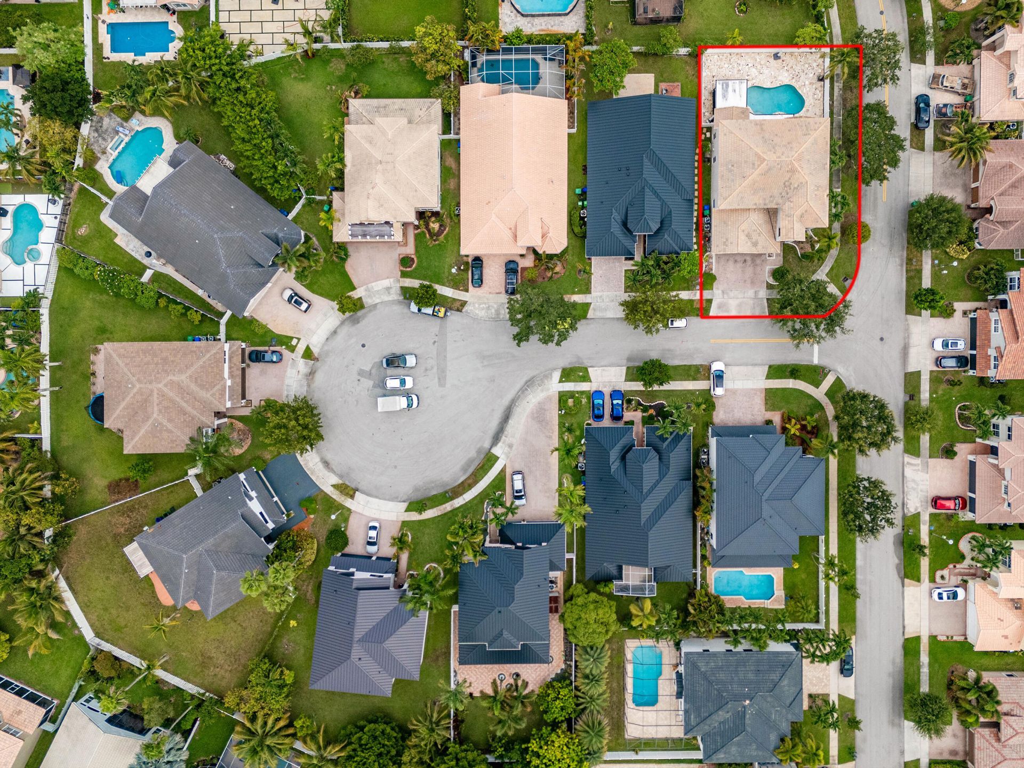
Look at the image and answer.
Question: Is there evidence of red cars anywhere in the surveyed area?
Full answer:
Yes, a red car can be made out from above.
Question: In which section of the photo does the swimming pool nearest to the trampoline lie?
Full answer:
Look in the left portion of the view to spot the swimming pool nearest to the trampoline.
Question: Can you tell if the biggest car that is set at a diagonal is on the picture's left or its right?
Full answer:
It is on the left.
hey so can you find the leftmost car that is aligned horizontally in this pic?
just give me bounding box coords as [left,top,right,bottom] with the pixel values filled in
[250,349,281,364]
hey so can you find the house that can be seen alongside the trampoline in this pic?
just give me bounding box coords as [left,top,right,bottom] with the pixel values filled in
[103,341,248,454]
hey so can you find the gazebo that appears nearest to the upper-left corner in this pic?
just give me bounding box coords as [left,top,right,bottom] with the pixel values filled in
[12,65,37,91]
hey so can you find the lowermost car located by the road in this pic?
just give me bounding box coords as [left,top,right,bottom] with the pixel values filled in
[838,646,855,677]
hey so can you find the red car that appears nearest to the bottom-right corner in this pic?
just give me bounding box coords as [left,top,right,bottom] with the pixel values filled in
[930,496,965,512]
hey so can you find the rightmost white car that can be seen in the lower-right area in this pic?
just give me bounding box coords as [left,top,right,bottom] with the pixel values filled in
[929,586,964,602]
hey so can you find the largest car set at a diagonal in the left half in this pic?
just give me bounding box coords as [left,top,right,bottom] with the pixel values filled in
[281,287,312,313]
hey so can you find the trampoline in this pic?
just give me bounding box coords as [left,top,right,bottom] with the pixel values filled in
[86,394,103,423]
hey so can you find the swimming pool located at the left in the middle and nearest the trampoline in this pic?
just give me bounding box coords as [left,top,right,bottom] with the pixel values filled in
[0,367,40,395]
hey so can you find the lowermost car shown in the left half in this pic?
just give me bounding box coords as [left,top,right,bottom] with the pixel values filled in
[364,521,380,554]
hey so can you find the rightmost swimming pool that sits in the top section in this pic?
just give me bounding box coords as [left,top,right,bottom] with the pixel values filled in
[747,83,806,115]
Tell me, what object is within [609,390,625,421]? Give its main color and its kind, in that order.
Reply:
blue car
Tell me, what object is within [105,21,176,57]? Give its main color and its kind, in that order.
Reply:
blue swimming pool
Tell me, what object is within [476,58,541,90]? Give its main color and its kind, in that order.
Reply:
blue swimming pool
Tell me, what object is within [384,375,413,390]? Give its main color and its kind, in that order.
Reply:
white car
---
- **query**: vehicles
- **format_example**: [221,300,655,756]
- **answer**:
[609,390,625,421]
[511,471,526,504]
[250,349,281,364]
[930,102,970,119]
[364,521,380,554]
[657,317,689,330]
[469,257,484,288]
[376,394,420,412]
[410,301,451,320]
[930,496,965,512]
[929,586,964,602]
[838,646,855,677]
[504,260,520,297]
[928,74,975,96]
[591,390,605,421]
[383,353,416,369]
[933,354,967,370]
[384,375,413,390]
[930,337,965,352]
[281,287,312,313]
[709,363,726,396]
[913,95,931,130]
